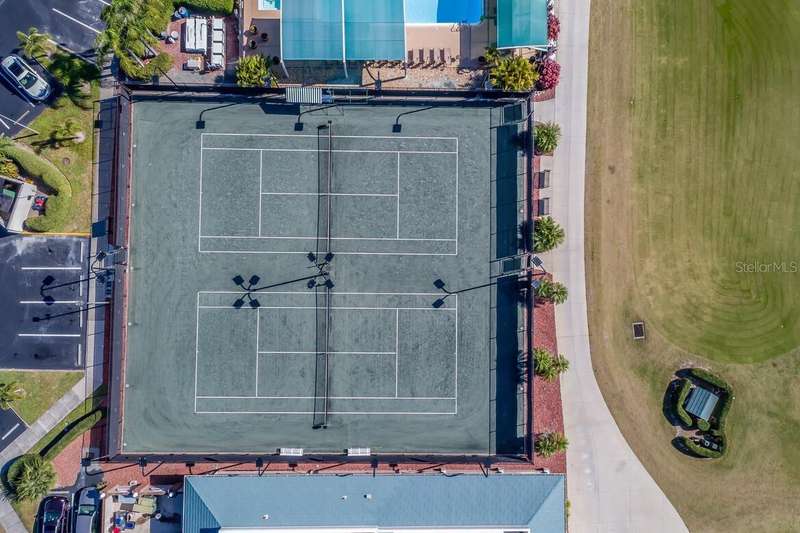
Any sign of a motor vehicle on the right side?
No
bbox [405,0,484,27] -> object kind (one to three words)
swimming pool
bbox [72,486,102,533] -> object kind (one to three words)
car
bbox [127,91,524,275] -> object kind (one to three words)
tennis court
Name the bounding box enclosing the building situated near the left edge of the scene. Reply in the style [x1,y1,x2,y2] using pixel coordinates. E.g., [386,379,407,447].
[0,173,38,232]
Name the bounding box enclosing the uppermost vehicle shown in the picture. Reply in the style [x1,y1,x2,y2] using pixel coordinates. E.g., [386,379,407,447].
[0,55,51,105]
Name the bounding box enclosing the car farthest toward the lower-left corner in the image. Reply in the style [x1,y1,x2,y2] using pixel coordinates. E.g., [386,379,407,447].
[41,493,71,533]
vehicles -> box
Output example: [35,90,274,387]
[41,493,71,533]
[72,486,102,533]
[0,55,51,105]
